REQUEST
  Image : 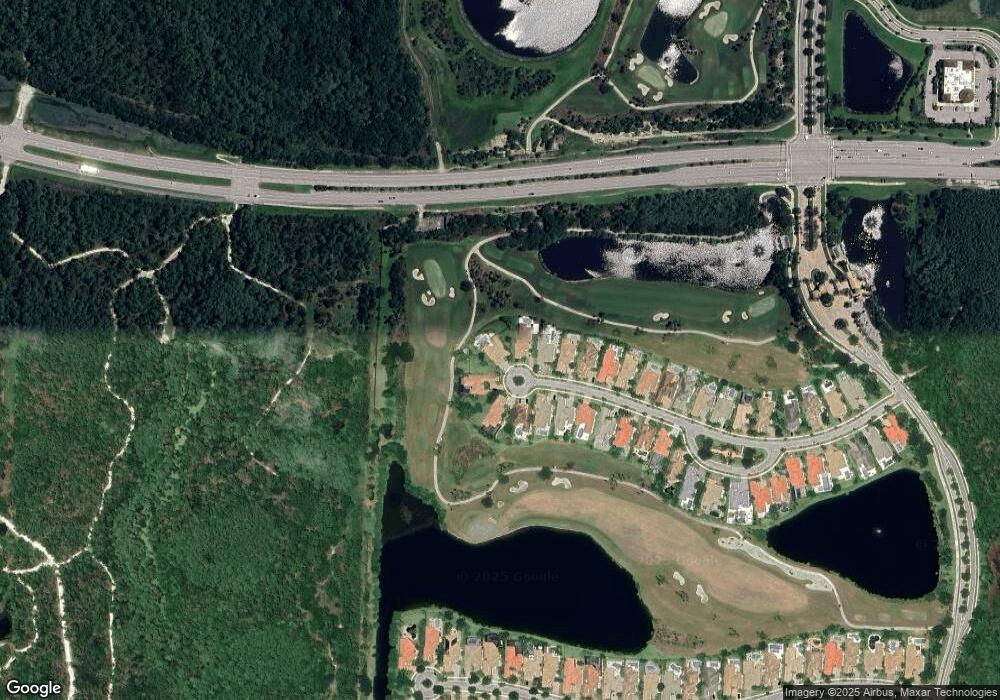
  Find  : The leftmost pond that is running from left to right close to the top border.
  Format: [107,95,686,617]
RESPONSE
[463,0,600,57]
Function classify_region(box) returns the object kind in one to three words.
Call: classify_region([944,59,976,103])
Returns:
building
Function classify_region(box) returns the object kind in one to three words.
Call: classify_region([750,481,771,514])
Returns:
house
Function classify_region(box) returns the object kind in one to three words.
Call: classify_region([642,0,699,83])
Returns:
pond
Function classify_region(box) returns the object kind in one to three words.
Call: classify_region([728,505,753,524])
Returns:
swimming pool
